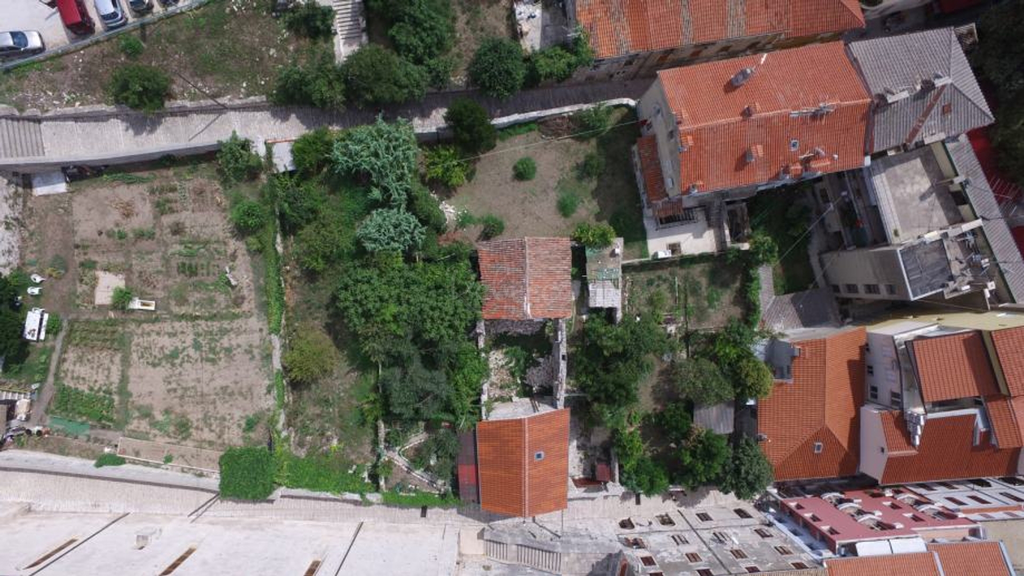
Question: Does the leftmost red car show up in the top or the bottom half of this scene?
top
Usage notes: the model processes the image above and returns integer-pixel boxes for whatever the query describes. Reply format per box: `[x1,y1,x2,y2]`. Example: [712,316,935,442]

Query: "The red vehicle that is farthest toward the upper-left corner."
[55,0,99,42]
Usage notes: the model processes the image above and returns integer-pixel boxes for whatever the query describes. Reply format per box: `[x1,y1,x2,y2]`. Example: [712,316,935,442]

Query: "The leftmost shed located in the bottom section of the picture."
[0,388,44,434]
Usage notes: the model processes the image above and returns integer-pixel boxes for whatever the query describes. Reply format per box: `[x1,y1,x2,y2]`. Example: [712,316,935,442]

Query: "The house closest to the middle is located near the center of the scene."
[477,238,572,321]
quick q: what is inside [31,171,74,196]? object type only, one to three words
shed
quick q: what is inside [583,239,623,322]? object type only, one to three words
shed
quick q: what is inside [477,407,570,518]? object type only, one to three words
house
